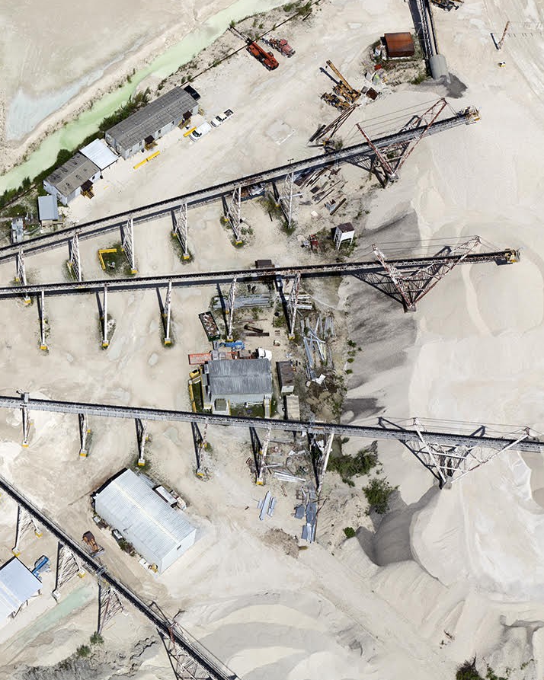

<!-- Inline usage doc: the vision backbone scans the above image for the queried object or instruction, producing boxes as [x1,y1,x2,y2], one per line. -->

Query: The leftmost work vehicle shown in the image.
[31,552,51,577]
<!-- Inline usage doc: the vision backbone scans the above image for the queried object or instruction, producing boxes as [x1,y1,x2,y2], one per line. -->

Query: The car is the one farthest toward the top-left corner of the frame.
[183,83,202,98]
